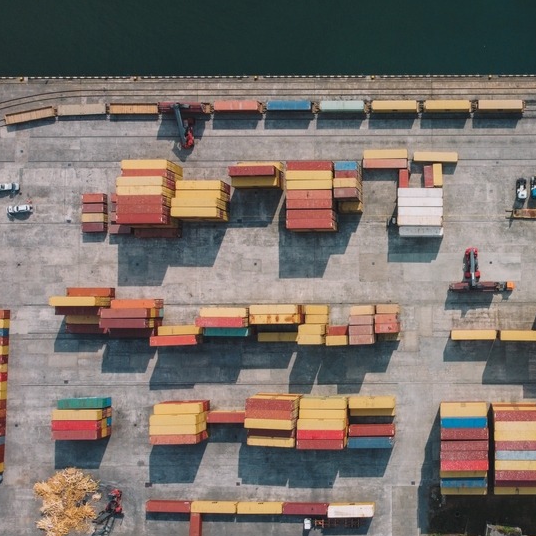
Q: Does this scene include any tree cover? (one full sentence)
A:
No, the picture contains no tree cover.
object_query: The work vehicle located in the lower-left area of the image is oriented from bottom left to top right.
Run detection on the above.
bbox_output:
[89,488,128,531]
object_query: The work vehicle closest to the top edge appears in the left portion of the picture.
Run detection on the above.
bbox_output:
[161,101,196,148]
